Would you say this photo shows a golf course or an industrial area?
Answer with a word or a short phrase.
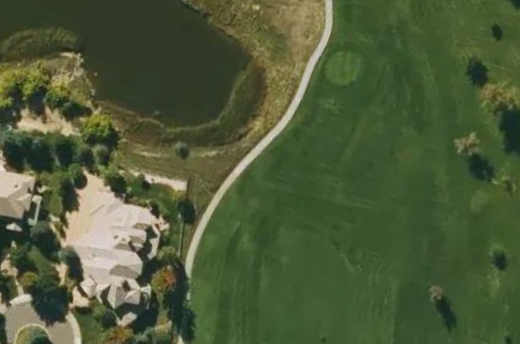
golf course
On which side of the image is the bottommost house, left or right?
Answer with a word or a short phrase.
left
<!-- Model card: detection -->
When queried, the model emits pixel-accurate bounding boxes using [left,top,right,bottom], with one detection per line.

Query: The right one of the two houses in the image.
[76,197,156,328]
